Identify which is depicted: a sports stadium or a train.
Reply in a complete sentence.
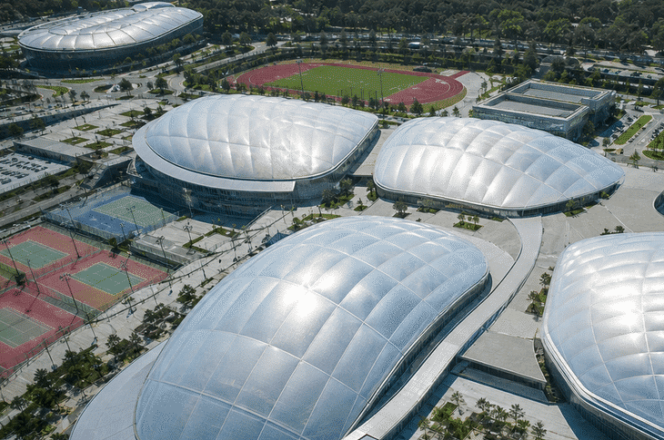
Visible in the photo is a sports stadium.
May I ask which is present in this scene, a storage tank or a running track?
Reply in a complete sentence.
The one in the frame is a running track.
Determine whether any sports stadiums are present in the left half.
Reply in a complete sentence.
Yes, there is a sports stadium in the left half.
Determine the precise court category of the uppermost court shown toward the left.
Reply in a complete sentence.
Looking closely, the uppermost court shown toward the left is a tennis court.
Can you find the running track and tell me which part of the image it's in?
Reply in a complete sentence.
The running track is in the top part of the image.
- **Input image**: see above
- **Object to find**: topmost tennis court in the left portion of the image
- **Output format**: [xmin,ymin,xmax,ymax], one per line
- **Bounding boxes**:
[46,185,179,241]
